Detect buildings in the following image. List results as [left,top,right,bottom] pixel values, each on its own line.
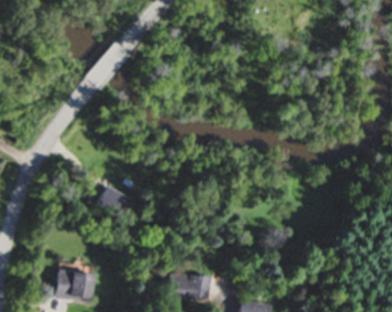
[170,274,213,301]
[98,185,126,211]
[58,270,96,301]
[240,302,272,312]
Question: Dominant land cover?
trees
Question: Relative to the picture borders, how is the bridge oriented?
on a diagonal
